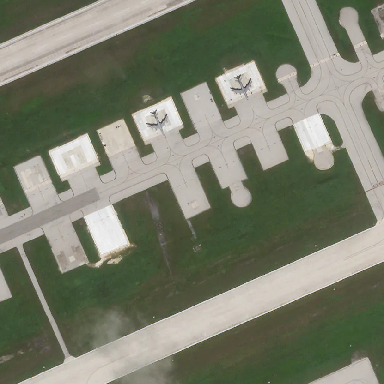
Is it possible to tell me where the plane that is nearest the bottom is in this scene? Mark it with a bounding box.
[148,112,169,135]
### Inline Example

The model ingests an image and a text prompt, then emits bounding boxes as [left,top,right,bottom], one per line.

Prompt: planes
[148,112,169,135]
[232,77,253,100]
